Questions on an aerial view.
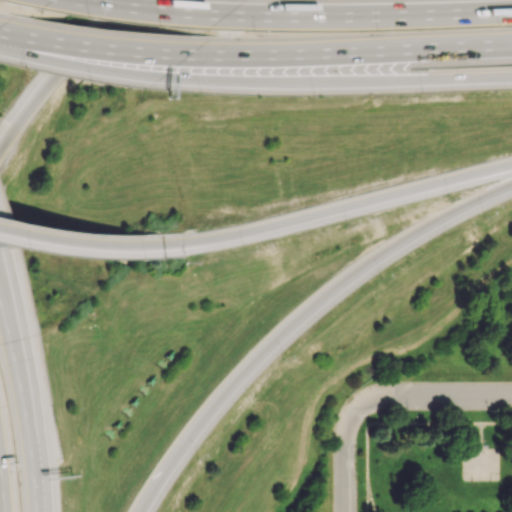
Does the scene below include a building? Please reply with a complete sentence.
No, I can't see a single building in this photo.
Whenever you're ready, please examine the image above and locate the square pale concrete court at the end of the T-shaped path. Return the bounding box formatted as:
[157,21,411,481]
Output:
[463,446,500,481]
